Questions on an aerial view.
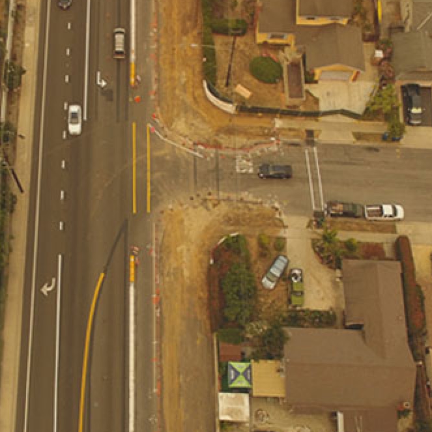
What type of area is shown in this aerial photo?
residential area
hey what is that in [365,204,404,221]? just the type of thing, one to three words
vehicle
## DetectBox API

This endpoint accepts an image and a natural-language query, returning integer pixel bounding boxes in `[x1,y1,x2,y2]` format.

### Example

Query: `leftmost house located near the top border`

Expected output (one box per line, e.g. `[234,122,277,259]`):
[258,0,370,80]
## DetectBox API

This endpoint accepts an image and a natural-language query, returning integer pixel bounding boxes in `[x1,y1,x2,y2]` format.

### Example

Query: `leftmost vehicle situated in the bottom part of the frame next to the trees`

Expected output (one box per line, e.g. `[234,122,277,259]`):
[263,255,289,289]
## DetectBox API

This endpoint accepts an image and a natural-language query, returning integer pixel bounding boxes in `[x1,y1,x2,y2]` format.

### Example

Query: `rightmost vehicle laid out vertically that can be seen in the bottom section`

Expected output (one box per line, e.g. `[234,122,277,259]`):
[288,267,306,308]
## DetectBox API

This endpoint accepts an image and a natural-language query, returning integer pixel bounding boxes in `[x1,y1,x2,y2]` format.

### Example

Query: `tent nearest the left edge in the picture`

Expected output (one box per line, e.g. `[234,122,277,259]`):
[226,361,251,390]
